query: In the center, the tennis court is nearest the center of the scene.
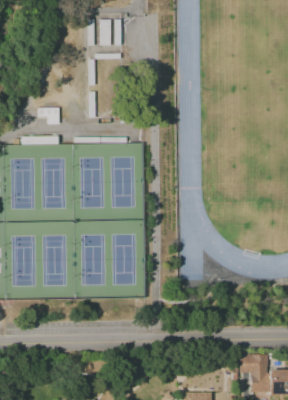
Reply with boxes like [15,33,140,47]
[111,156,135,208]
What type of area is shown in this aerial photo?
sports ground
